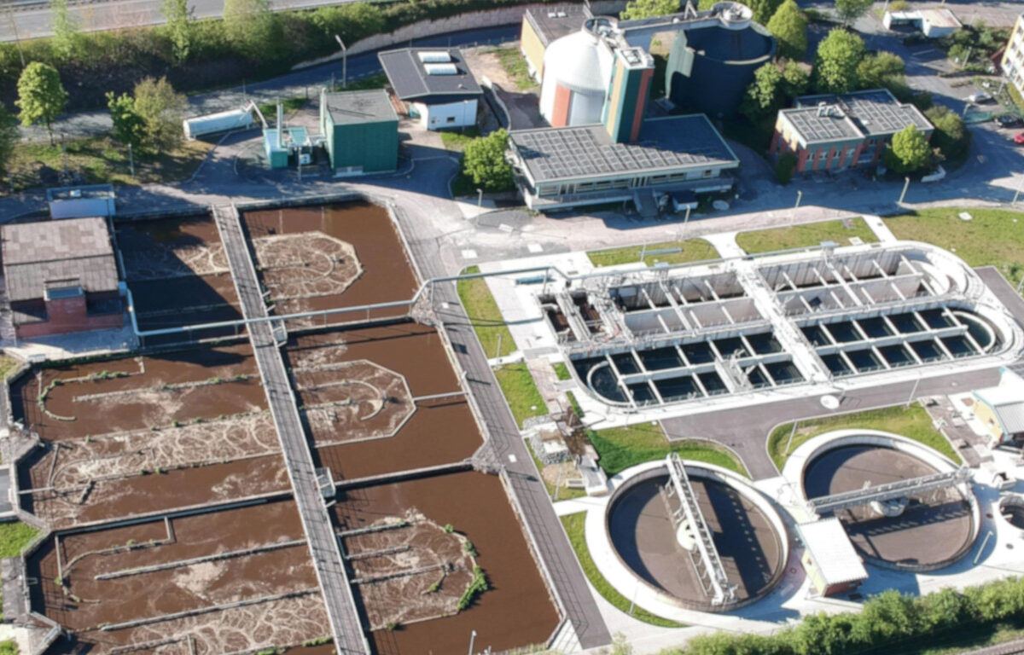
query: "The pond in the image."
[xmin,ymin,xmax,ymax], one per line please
[3,191,568,655]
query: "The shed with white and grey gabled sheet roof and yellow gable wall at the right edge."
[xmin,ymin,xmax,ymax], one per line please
[971,386,1024,445]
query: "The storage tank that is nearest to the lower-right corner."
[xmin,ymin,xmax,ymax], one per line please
[991,489,1024,545]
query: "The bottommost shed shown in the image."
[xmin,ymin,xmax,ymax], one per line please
[793,517,868,605]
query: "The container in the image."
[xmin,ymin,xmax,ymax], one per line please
[51,184,117,215]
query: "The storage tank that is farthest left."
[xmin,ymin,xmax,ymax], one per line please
[184,105,255,139]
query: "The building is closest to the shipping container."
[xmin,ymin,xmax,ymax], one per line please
[0,213,121,338]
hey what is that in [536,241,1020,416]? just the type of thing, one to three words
storage tank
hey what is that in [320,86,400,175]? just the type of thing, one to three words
building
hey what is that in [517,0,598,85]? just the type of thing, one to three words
building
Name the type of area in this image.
industrial area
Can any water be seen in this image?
Yes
